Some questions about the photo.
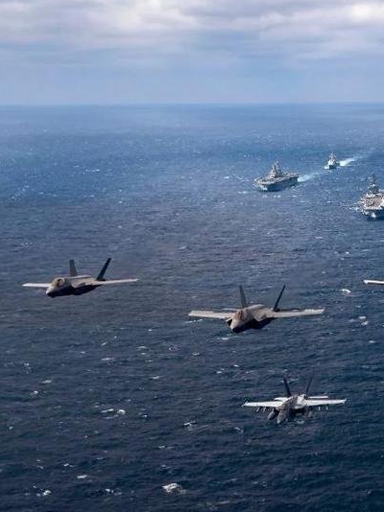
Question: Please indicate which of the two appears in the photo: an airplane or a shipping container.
airplane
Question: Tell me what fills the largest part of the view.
water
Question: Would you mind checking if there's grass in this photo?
No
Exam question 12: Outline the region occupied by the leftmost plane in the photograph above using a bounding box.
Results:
[23,256,145,300]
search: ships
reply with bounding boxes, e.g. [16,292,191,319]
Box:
[328,152,342,168]
[257,163,298,191]
[361,178,384,220]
